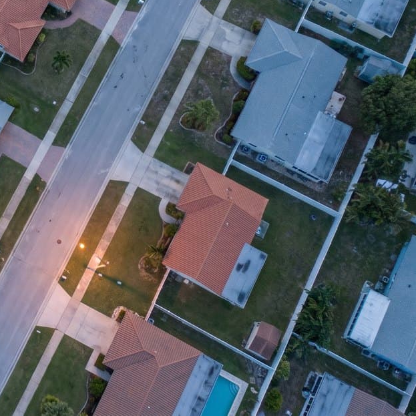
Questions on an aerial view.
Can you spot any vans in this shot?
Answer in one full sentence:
No, the photo shows no van.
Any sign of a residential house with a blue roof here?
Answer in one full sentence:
Yes, a residential house with a blue roof appears in the view.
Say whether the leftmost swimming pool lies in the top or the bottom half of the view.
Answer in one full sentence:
The bottom half of the photo is where the leftmost swimming pool is.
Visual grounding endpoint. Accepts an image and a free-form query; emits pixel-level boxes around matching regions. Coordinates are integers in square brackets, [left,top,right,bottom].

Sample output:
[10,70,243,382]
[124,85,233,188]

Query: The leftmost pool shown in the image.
[201,374,241,416]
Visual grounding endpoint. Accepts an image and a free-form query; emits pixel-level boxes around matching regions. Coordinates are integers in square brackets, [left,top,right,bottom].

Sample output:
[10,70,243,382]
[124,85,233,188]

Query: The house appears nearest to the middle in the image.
[161,162,268,309]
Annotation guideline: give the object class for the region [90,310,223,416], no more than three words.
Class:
house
